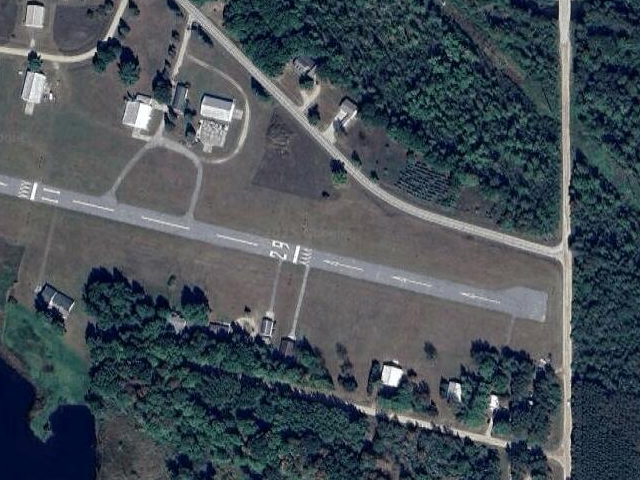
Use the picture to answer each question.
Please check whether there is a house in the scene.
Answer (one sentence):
Yes, you can see a house in this photo.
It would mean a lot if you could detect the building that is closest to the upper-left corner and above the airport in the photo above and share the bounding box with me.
[25,4,44,27]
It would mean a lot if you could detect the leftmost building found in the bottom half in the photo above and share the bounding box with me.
[40,285,73,312]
